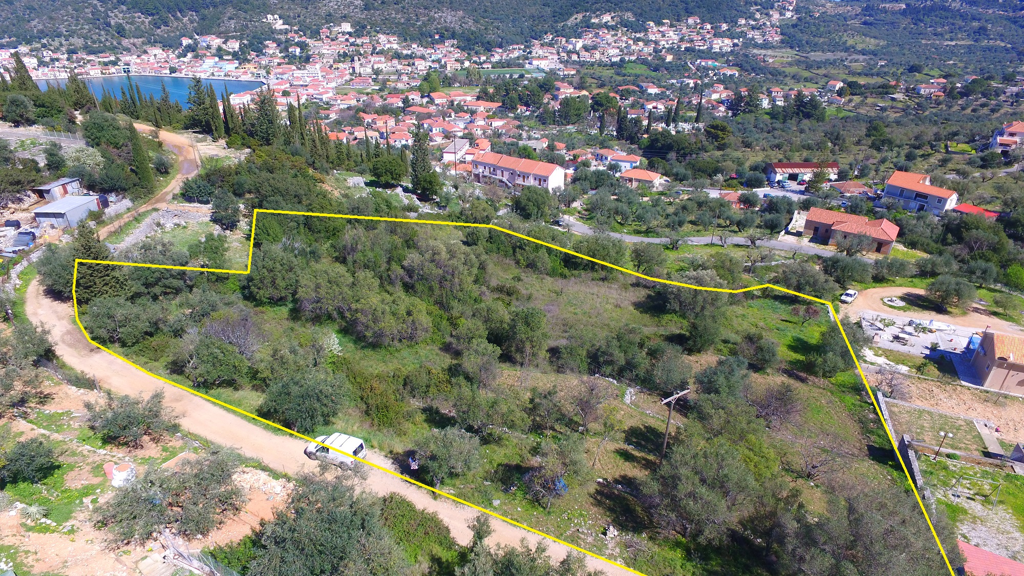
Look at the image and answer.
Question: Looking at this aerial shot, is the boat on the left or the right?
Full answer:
The boat is on the right side of the image.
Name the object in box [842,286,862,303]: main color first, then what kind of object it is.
white car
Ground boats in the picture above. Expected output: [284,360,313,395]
[908,313,961,334]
